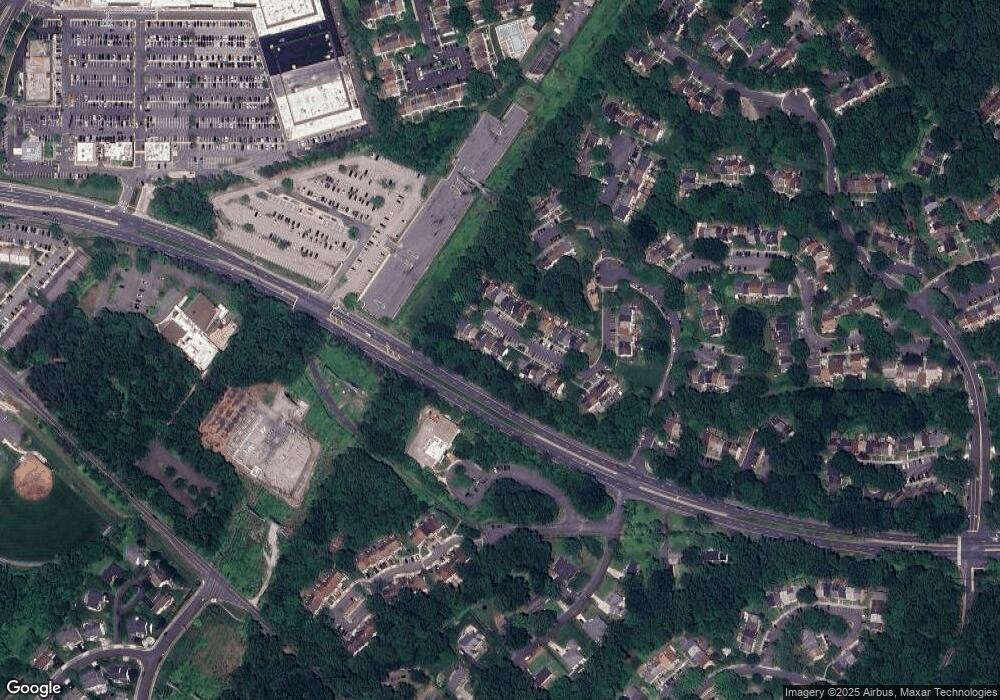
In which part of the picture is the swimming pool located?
top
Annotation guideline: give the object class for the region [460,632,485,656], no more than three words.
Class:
house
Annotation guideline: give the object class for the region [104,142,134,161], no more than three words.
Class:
building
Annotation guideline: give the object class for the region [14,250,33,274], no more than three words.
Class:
house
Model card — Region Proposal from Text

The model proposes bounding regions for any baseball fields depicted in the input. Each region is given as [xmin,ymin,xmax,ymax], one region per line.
[0,451,107,562]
